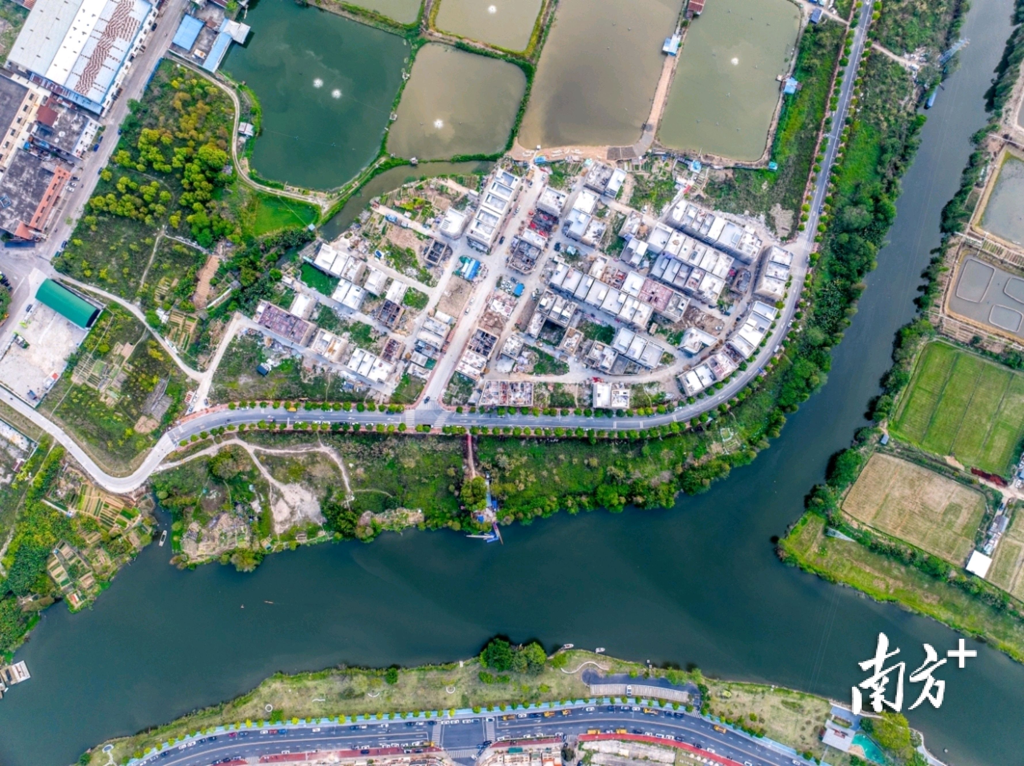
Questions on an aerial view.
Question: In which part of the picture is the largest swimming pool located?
bottom right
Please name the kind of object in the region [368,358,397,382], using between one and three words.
house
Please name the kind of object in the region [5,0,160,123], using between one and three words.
building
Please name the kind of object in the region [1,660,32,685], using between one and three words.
ship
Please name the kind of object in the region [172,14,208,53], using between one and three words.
shed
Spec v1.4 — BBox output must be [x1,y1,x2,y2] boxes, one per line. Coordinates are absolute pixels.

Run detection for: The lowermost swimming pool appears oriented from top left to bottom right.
[851,733,885,765]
